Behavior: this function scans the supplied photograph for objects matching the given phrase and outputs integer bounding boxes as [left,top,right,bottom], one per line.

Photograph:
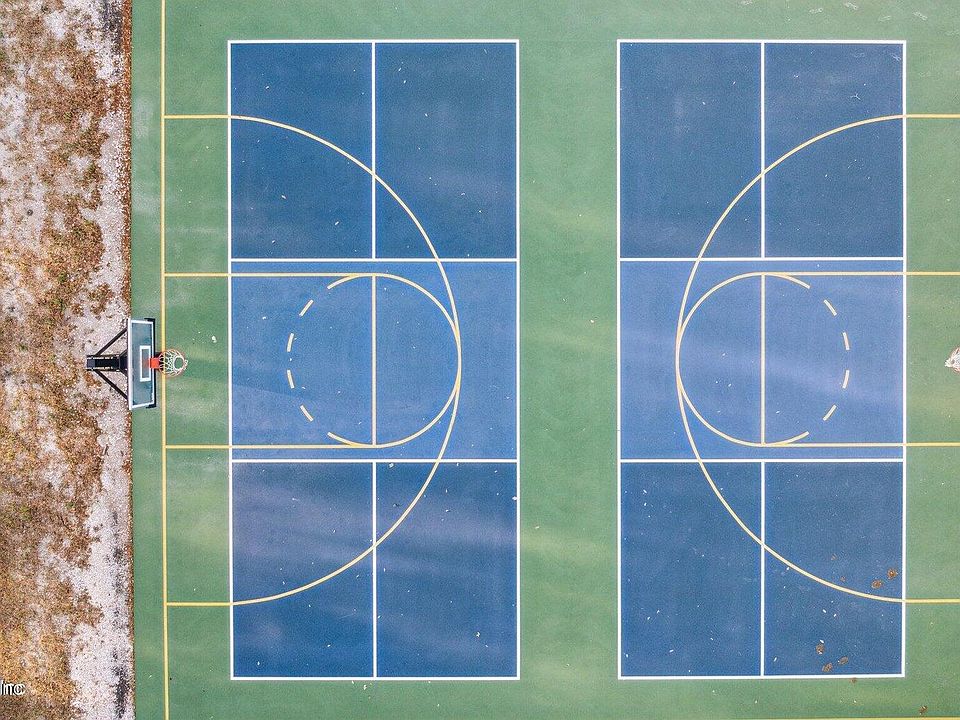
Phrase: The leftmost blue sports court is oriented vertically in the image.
[228,39,520,681]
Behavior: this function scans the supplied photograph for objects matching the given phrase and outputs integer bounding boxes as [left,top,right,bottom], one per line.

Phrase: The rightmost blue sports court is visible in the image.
[617,39,907,679]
